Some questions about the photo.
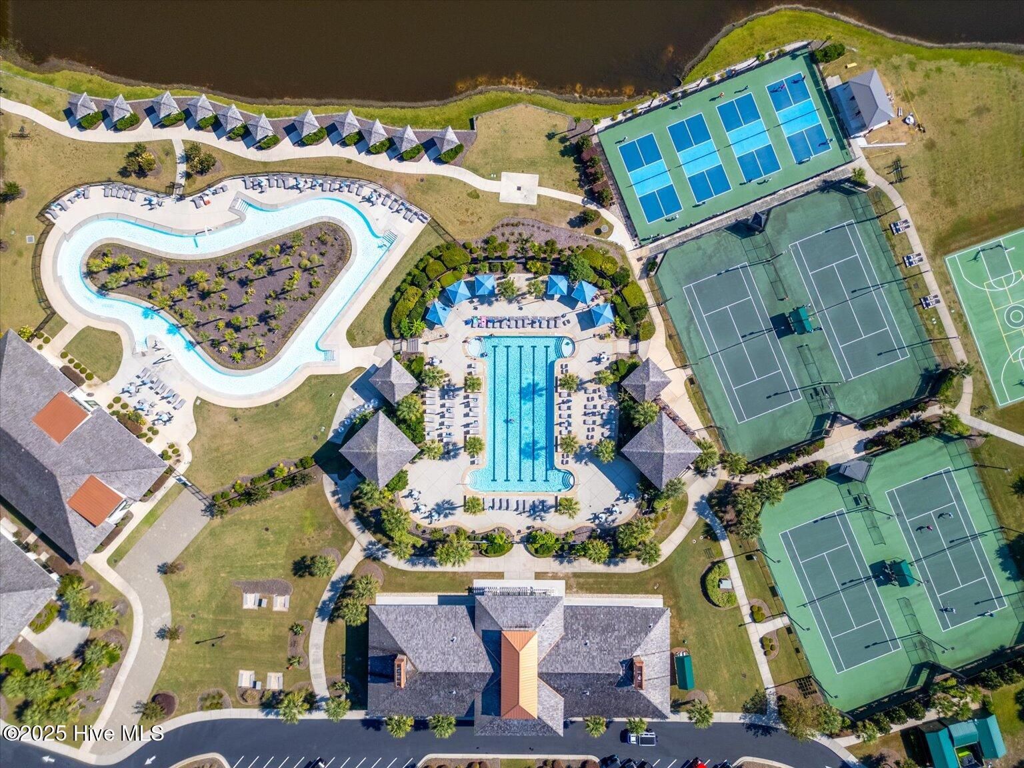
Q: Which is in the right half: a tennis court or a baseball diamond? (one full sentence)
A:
You can see a tennis court in the right half.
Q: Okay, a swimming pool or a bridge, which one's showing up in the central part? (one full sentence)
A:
What appears in the central part is a swimming pool.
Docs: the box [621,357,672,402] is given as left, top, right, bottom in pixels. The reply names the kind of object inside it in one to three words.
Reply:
building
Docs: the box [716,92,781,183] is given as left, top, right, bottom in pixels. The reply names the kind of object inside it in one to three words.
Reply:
sports court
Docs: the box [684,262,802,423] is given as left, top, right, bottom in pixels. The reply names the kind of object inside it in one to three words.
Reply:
tennis court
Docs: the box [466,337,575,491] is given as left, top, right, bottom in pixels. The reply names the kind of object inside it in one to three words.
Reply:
swimming pool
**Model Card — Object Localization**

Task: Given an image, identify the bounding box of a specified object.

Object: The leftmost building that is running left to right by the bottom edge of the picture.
[368,594,670,736]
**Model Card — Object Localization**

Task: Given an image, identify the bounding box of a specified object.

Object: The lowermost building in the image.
[918,709,1007,768]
